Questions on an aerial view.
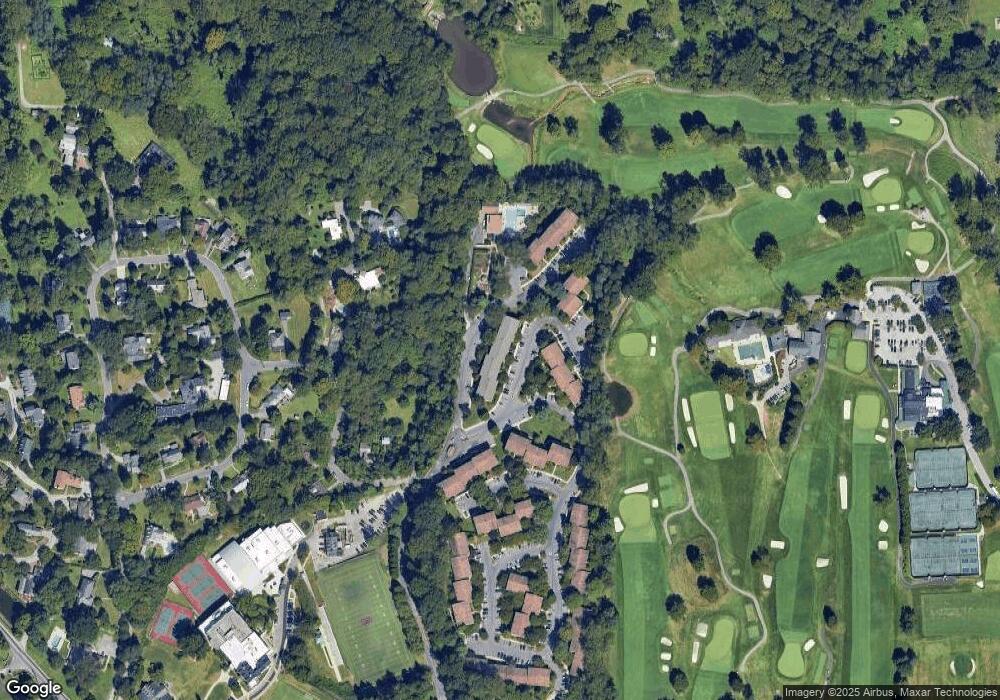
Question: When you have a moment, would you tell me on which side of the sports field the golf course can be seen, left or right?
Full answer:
The golf course is to the right of the sports field.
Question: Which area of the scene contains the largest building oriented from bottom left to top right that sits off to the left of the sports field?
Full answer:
The largest building oriented from bottom left to top right that sits off to the left of the sports field appears toward the bottom left of the photo.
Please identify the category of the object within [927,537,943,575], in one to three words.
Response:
tennis court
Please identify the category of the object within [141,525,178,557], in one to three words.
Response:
house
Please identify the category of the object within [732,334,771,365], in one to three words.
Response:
swimming pool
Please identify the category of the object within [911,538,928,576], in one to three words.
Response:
tennis court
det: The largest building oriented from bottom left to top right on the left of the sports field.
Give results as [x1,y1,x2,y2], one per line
[209,519,305,594]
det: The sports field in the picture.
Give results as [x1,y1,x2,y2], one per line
[317,549,413,683]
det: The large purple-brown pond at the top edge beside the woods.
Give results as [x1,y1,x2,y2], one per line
[438,17,498,97]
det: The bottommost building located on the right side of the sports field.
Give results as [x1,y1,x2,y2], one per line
[492,666,551,687]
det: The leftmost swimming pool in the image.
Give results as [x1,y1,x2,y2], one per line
[48,627,65,652]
